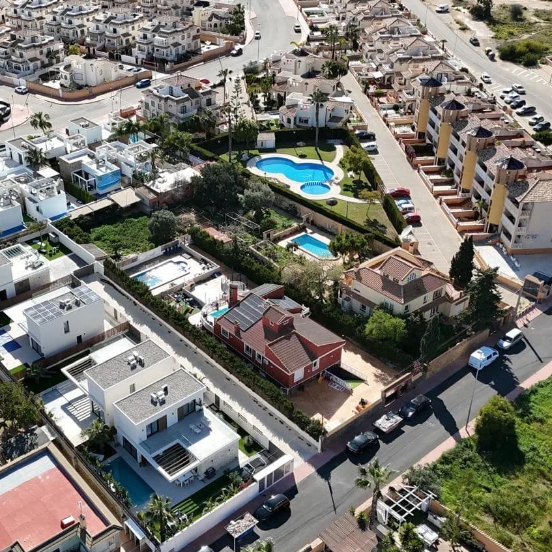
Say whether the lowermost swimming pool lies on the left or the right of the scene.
left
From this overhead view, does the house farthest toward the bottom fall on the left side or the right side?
left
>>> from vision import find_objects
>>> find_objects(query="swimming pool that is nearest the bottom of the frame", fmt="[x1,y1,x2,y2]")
[106,449,157,504]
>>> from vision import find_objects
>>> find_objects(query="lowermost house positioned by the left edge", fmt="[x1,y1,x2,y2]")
[0,442,129,552]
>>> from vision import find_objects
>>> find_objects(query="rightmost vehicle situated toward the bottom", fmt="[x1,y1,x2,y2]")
[499,325,523,346]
